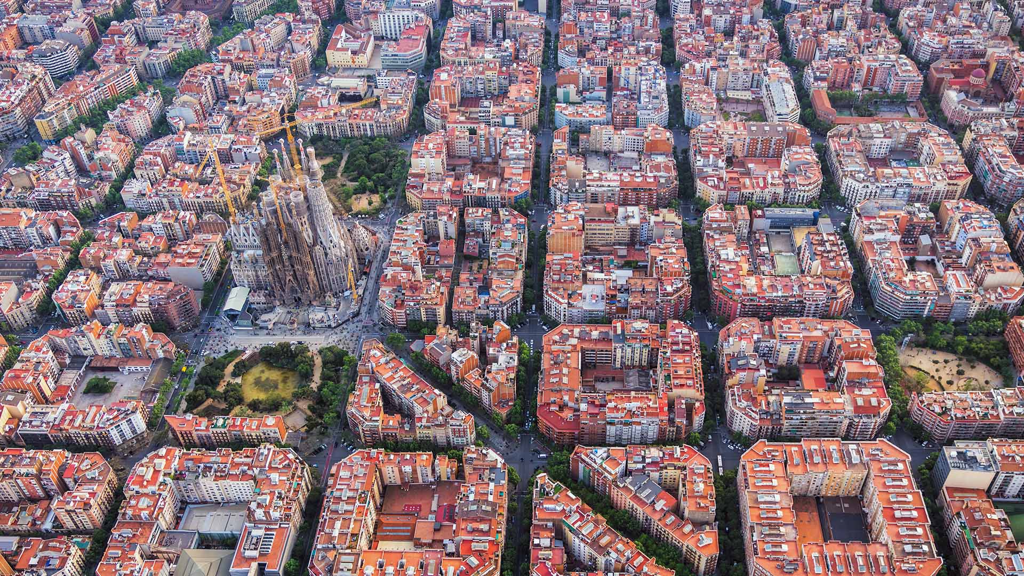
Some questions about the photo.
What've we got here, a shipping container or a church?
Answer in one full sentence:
The one in the frame is a church.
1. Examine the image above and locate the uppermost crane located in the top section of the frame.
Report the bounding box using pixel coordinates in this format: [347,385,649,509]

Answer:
[253,100,377,175]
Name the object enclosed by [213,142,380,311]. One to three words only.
church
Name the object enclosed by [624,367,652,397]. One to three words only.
building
